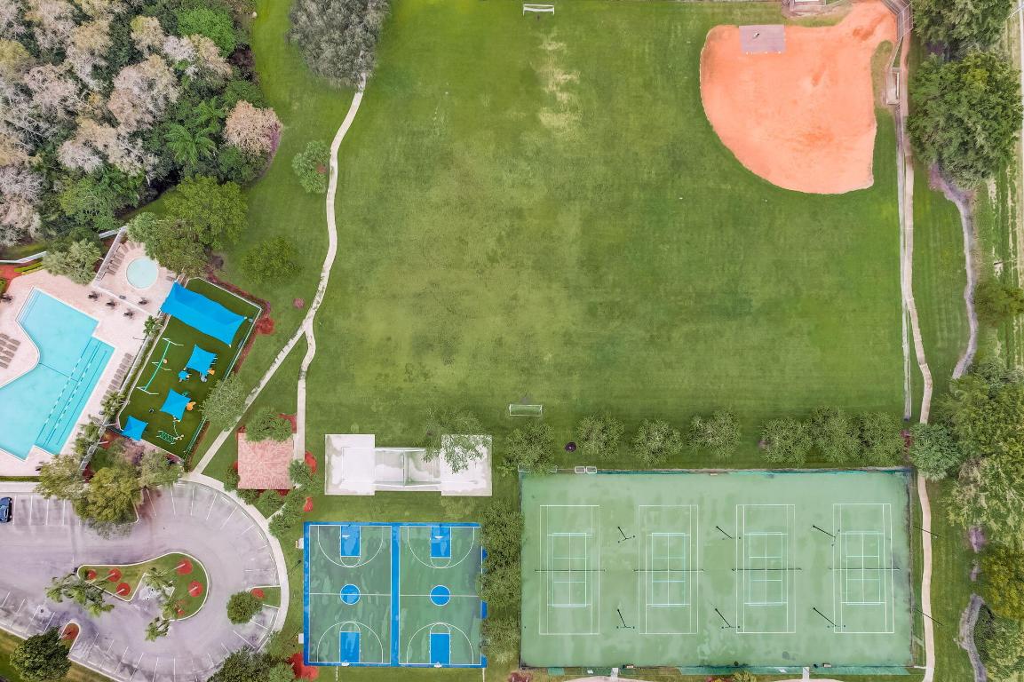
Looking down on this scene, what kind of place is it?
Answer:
sports ground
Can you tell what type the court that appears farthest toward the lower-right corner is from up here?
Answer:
tennis court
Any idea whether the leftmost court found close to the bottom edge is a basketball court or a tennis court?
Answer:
basketball court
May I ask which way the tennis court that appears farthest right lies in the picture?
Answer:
up and down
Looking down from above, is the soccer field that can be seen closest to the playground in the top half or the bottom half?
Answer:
top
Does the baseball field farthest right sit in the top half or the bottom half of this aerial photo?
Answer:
top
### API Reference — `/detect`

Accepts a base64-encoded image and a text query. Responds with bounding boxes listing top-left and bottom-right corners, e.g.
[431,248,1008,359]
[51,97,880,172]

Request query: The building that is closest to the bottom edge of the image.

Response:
[238,434,295,489]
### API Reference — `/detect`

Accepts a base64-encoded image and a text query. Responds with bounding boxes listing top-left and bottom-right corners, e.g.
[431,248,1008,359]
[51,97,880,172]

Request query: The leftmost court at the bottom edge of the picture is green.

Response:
[309,525,391,663]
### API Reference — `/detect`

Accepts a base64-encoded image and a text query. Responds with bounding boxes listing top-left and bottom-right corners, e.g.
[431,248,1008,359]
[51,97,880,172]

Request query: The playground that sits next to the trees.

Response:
[117,277,260,460]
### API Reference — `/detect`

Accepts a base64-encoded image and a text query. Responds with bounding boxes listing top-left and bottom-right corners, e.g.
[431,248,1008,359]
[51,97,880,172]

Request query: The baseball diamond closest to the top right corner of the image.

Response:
[699,0,898,195]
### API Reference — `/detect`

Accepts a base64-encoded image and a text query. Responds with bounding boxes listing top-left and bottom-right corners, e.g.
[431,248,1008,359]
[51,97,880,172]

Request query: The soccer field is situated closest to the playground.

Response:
[339,7,857,416]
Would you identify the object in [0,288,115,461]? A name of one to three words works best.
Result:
swimming pool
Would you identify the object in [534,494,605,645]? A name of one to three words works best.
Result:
tennis court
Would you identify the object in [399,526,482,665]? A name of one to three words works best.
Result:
basketball court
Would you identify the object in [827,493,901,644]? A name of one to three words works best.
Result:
tennis court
